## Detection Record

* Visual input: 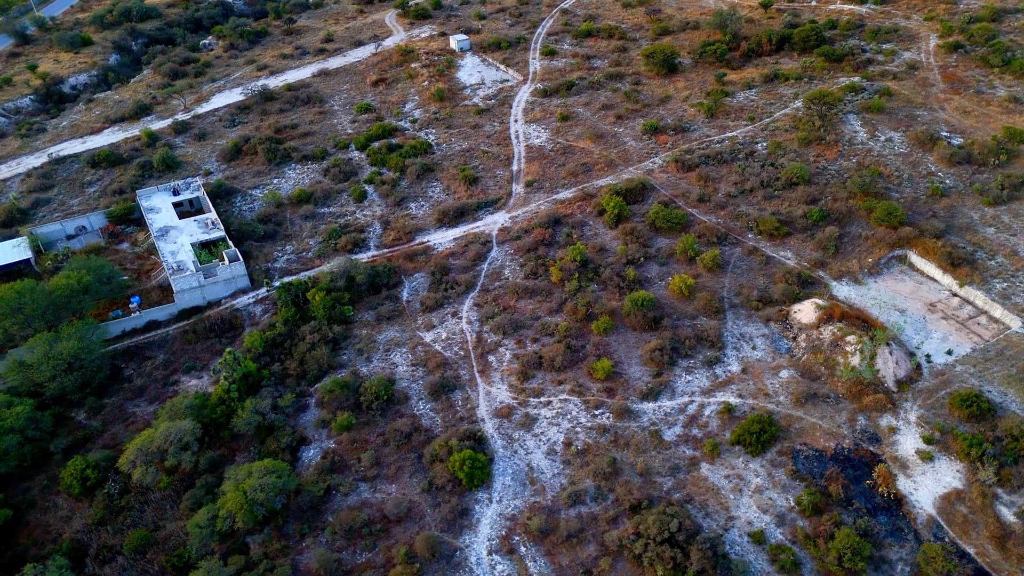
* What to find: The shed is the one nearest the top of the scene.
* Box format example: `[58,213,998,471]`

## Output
[449,35,470,55]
